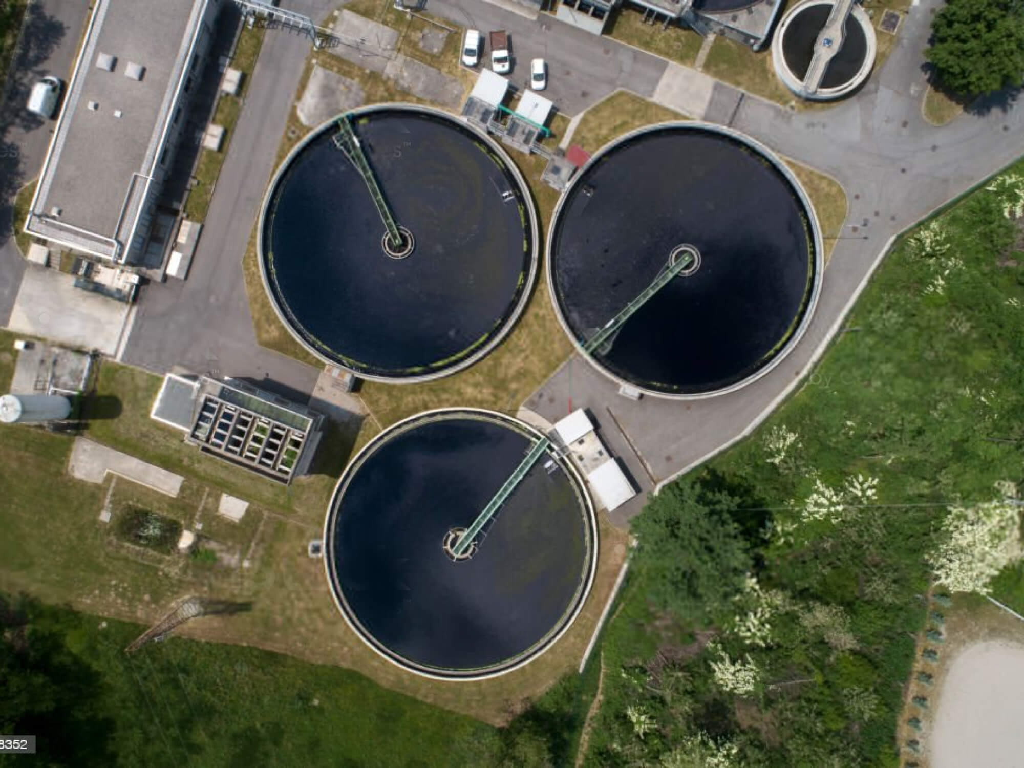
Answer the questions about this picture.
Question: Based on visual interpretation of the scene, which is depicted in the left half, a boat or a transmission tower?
transmission tower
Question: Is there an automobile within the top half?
Yes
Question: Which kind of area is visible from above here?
industrial area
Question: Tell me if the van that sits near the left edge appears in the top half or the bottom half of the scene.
top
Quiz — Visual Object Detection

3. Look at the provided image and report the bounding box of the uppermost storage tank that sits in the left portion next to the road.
[258,103,539,384]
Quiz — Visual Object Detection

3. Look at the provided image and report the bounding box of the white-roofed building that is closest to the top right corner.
[516,90,553,129]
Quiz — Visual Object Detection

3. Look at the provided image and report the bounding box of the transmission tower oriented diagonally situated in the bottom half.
[125,593,210,652]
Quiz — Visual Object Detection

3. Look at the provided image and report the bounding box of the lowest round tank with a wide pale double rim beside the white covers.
[324,407,598,681]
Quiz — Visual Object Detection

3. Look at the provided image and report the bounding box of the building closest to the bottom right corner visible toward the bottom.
[588,458,636,511]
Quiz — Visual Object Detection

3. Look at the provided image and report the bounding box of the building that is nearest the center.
[554,408,593,444]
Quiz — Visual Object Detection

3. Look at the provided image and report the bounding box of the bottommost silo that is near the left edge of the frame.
[0,393,67,424]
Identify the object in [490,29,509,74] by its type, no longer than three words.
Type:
vehicle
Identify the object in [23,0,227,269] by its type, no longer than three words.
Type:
building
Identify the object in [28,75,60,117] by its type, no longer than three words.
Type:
van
